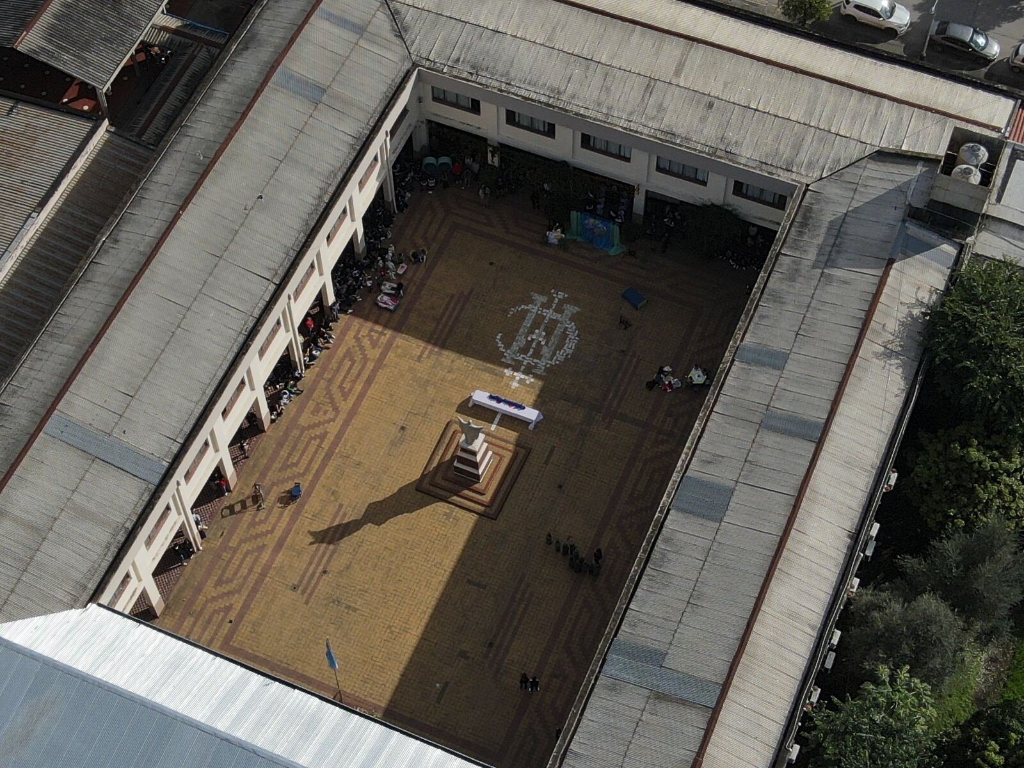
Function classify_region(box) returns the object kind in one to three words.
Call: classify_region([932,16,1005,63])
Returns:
car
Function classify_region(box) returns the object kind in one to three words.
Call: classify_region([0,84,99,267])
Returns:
building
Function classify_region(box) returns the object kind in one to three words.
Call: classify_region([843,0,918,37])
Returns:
car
